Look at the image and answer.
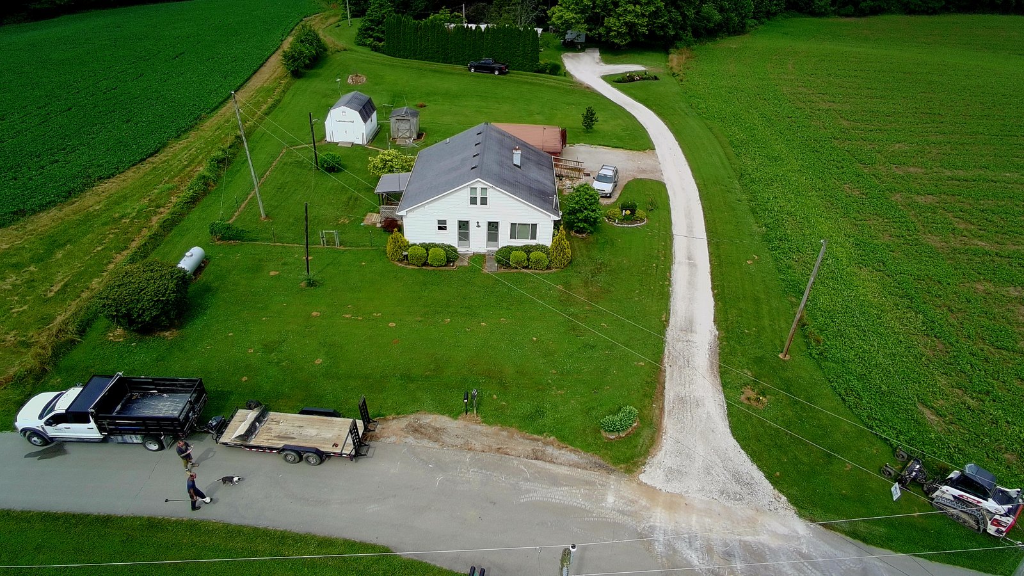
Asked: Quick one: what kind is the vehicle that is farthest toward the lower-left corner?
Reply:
truck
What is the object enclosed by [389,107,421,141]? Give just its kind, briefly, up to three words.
shed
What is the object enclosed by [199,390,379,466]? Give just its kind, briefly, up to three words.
trailer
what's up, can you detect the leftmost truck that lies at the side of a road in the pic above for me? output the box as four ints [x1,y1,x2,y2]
[11,369,211,447]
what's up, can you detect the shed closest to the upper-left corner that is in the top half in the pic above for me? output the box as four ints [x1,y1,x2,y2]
[322,95,376,146]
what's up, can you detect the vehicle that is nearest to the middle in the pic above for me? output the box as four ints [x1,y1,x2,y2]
[590,165,621,198]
